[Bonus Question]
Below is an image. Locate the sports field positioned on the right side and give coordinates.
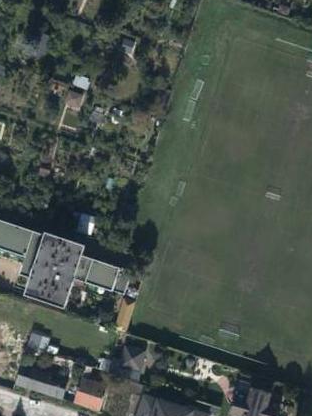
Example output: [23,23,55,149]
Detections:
[134,0,312,388]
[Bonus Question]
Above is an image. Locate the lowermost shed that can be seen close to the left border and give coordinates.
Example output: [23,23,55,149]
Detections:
[15,374,66,402]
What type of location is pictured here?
sports ground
